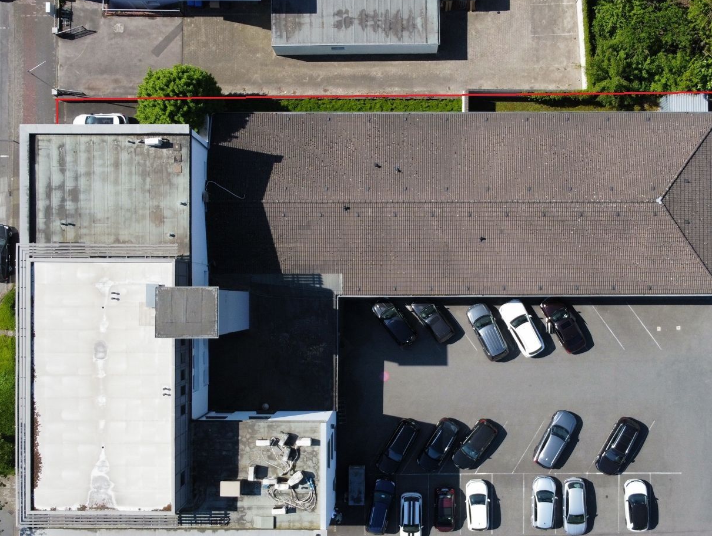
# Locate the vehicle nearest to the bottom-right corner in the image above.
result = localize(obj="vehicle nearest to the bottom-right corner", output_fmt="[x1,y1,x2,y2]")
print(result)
[623,480,650,532]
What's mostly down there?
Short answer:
buildings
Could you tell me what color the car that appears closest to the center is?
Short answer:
black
